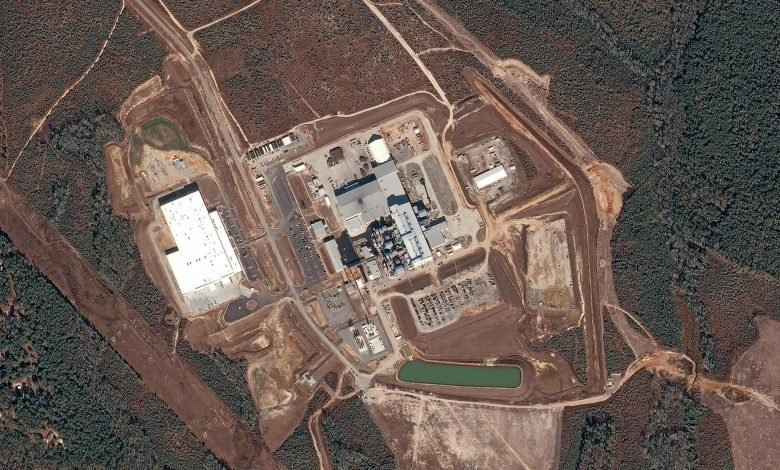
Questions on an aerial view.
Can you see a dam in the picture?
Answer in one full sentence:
No, I can see no dam in this picture.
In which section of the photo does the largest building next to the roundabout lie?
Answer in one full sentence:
The largest building next to the roundabout is in the left part of the image.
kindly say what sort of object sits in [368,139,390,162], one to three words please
shed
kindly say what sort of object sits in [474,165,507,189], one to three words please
shed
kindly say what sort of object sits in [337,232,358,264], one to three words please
building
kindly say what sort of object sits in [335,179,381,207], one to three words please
building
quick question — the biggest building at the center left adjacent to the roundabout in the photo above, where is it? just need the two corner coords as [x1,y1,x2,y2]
[161,190,233,294]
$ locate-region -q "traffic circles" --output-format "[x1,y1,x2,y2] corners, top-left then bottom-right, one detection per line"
[225,289,289,323]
